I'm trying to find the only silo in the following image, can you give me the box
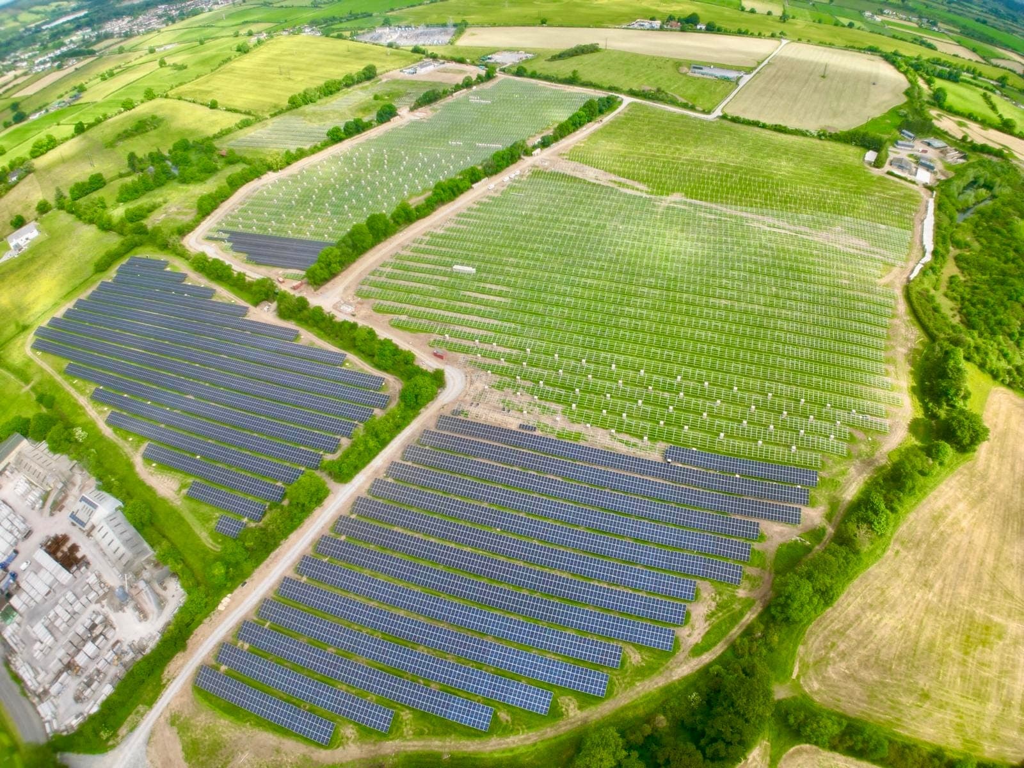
[101,578,127,601]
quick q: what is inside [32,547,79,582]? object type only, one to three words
shed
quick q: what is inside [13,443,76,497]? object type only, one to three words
barn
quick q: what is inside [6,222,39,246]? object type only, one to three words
house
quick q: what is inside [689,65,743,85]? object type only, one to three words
shed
